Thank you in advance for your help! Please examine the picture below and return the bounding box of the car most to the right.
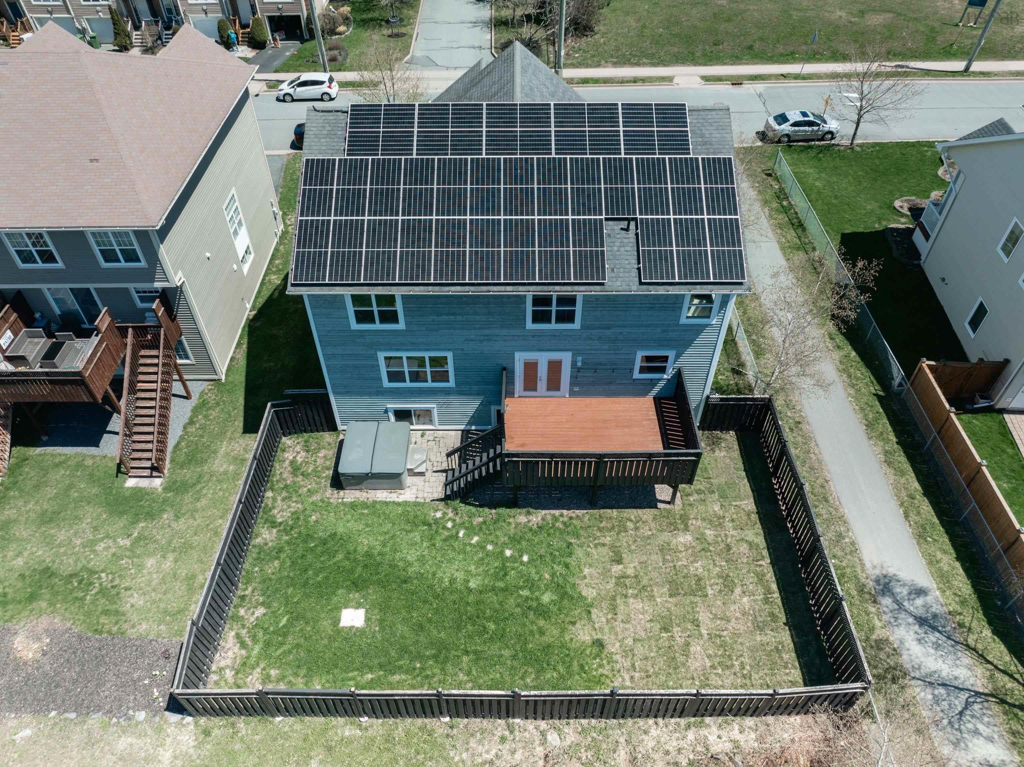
[764,107,847,140]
